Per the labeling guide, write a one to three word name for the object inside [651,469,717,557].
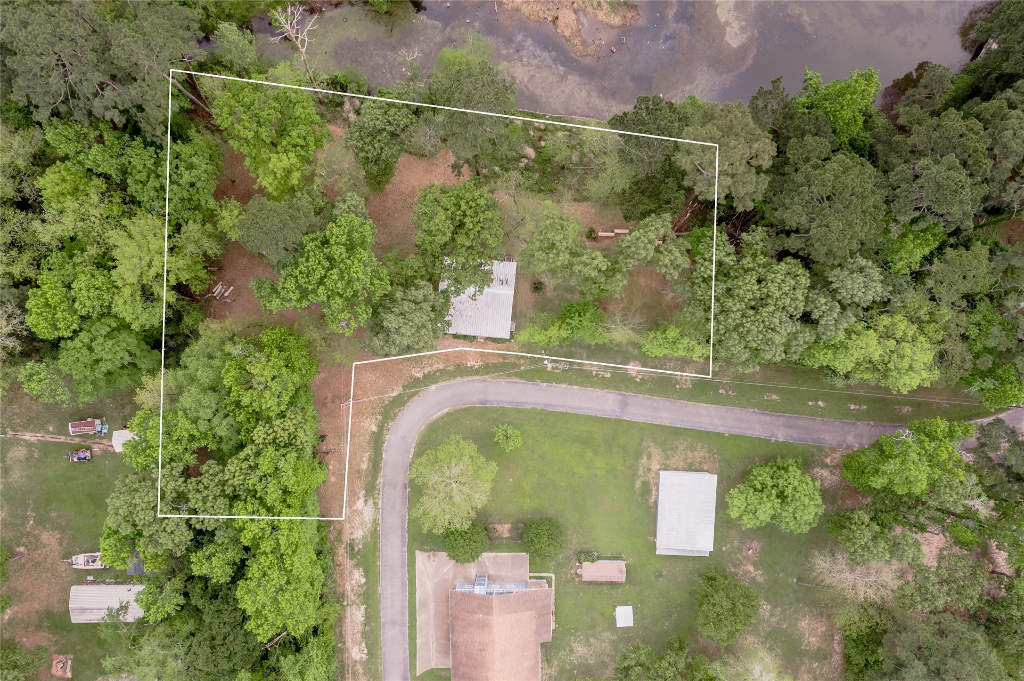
building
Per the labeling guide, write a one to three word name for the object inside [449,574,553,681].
house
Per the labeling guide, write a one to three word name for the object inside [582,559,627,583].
shed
